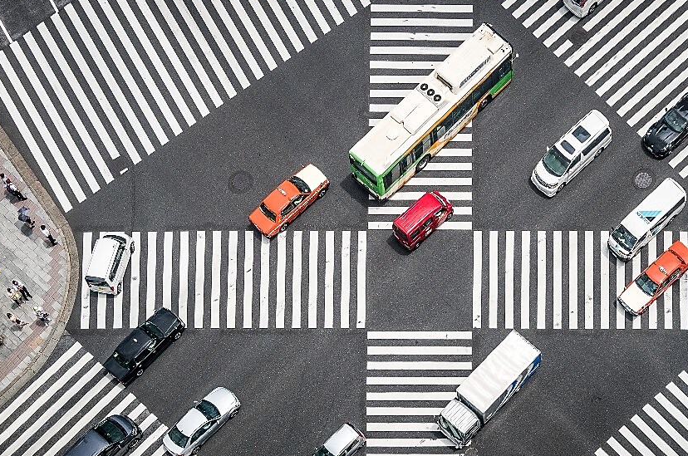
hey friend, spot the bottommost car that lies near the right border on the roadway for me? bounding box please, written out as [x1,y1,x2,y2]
[616,240,688,319]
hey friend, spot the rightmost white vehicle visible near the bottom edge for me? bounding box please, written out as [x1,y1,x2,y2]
[430,328,541,452]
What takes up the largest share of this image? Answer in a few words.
paved ground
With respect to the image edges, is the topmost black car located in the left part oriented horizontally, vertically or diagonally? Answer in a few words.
diagonally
